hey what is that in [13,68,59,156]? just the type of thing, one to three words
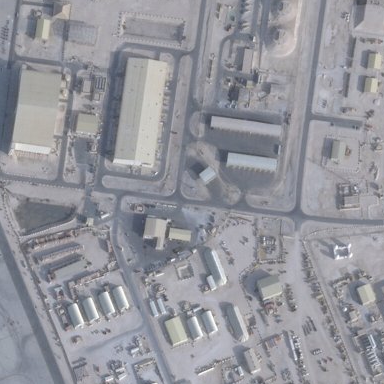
hangar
